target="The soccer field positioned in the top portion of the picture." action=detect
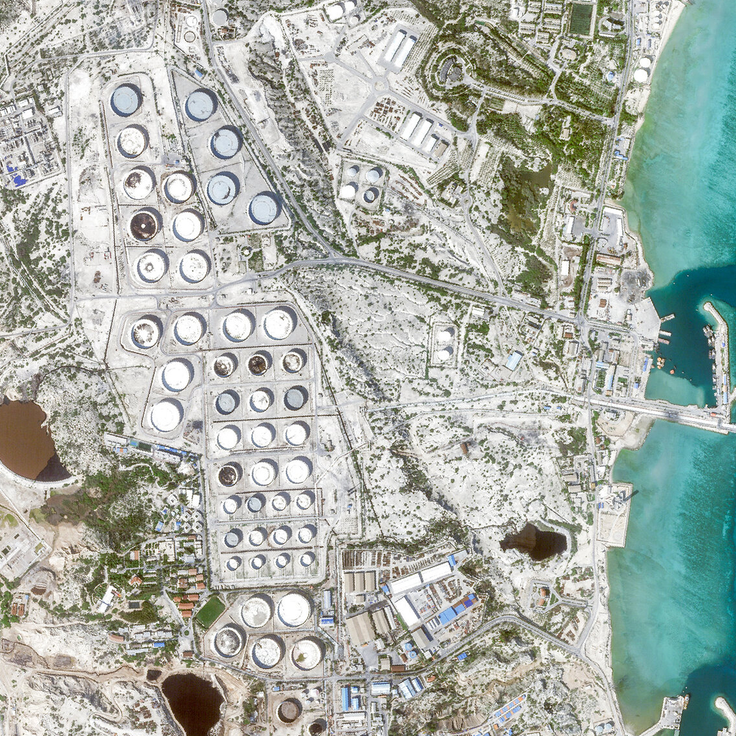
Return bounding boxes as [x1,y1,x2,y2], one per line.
[571,2,594,35]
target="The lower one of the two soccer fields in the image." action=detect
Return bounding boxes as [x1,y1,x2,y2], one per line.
[193,593,227,630]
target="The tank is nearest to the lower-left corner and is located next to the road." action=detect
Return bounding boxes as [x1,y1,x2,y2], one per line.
[211,627,244,659]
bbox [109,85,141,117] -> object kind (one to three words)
storage tank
